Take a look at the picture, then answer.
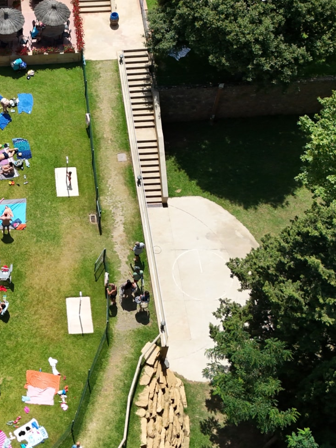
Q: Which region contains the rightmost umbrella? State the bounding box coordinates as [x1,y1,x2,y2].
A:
[34,2,71,30]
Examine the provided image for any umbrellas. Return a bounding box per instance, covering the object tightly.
[34,2,71,30]
[0,12,25,38]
